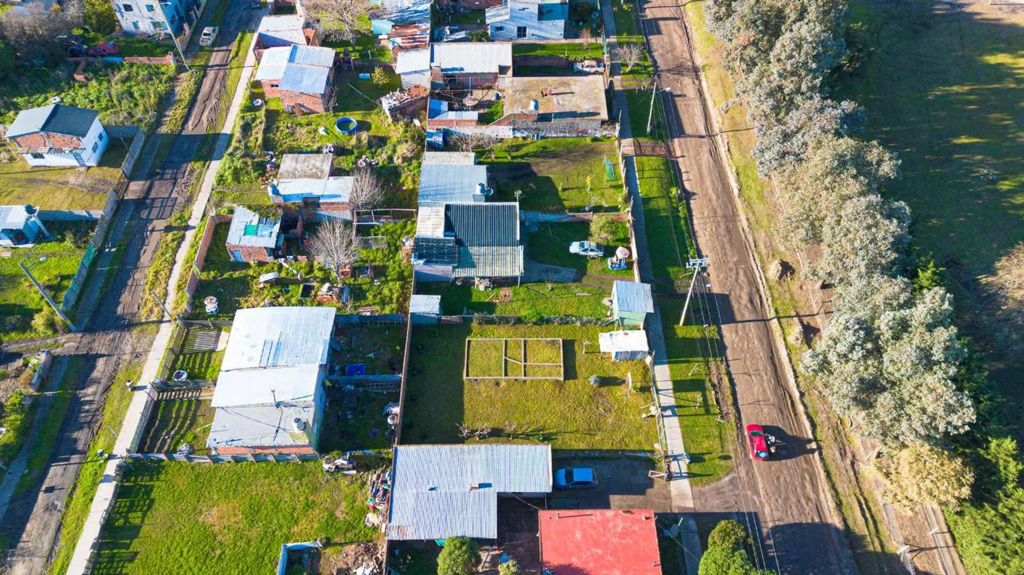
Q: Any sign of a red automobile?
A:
Yes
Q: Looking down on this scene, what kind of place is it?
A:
residential area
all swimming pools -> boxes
[335,117,357,135]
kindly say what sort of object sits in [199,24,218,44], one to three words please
vehicle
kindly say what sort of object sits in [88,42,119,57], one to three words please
car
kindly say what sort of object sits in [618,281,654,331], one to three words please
building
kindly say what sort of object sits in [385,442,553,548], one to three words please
house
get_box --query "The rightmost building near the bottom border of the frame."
[538,508,664,575]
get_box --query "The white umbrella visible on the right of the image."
[616,244,632,256]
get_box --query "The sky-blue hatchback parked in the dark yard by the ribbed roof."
[555,467,598,490]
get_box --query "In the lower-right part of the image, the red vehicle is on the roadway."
[745,424,771,464]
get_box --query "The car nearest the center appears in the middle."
[569,240,605,258]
